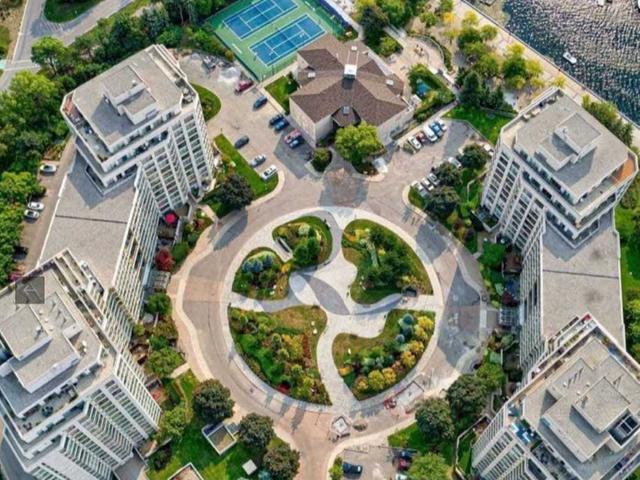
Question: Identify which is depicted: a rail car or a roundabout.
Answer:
roundabout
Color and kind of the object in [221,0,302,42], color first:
blue tennis court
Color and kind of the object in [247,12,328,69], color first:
blue tennis court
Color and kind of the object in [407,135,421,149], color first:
white vehicle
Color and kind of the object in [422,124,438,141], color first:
white vehicle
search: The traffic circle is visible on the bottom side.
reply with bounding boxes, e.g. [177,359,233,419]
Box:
[219,206,445,413]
